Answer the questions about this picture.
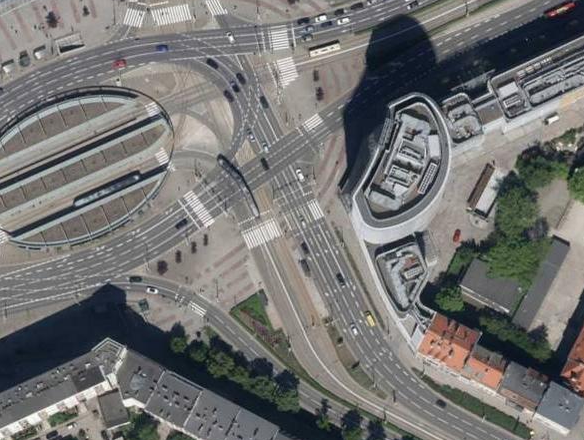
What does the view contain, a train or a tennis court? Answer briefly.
train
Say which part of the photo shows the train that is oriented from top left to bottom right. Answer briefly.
center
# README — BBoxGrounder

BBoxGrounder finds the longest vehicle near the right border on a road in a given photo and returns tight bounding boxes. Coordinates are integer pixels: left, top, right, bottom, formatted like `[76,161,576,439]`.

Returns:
[545,1,577,19]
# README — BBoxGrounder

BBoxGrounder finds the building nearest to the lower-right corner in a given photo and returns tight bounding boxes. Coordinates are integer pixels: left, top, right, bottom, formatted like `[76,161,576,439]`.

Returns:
[534,381,584,434]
